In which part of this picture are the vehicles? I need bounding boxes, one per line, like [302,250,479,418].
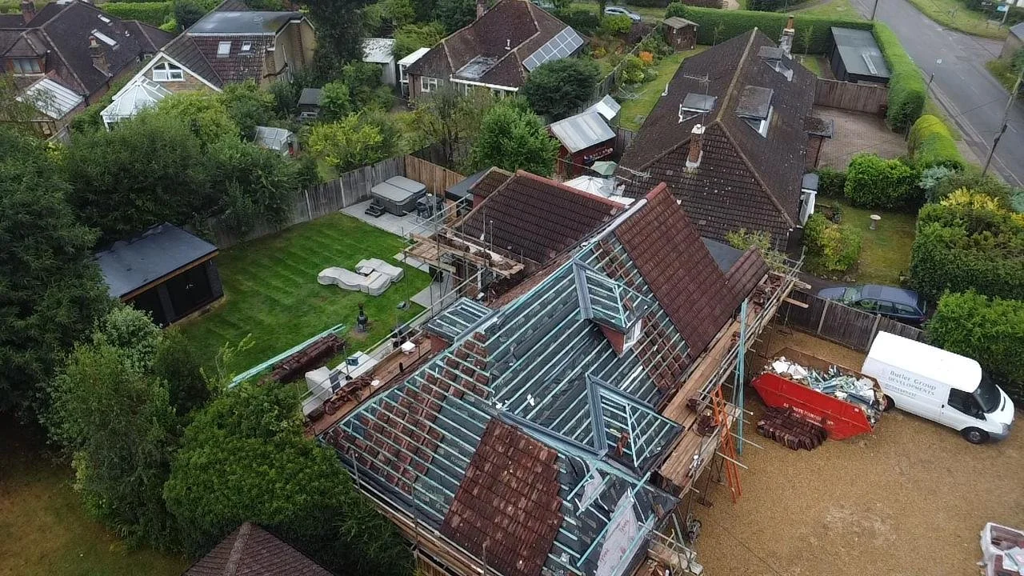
[817,283,936,334]
[605,6,645,21]
[863,333,1019,448]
